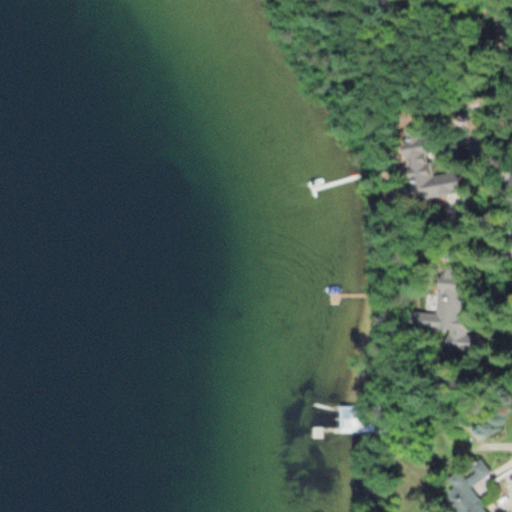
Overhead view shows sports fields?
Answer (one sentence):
No, no sports field is visible in the view.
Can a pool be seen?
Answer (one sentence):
No, there is no pool in the image.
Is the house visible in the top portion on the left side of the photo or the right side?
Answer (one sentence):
The house visible in the top portion appears in the right half of the scene.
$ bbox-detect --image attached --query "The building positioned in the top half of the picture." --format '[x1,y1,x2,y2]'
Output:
[402,138,461,198]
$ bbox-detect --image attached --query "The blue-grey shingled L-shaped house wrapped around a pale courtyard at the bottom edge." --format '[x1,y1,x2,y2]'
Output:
[448,461,492,512]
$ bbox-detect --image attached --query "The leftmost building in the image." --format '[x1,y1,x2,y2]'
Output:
[340,406,366,434]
